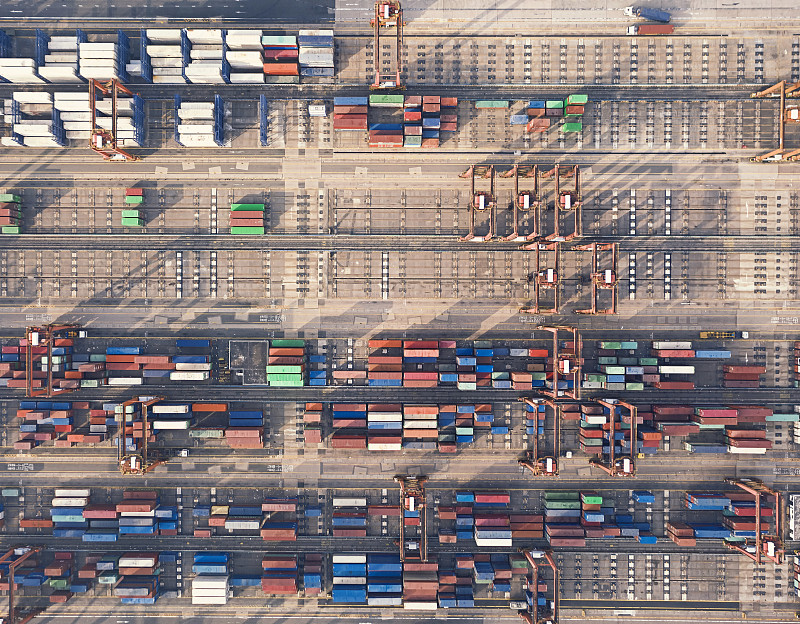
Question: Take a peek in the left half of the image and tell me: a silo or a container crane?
container crane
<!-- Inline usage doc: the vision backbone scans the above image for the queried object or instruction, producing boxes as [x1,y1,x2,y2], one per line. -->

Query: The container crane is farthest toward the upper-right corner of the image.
[753,79,800,162]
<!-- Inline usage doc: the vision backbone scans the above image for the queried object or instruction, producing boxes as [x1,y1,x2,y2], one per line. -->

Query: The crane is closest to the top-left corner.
[87,78,138,161]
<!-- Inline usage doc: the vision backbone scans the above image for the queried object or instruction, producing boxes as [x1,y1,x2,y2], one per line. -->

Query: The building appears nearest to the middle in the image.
[229,341,269,384]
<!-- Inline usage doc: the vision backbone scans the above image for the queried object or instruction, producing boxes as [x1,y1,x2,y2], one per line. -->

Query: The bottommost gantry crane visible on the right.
[519,548,562,624]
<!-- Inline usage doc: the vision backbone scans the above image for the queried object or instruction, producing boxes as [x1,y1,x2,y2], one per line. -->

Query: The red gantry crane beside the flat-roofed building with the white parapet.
[729,476,787,561]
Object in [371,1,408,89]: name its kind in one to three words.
container crane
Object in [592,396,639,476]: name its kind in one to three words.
container crane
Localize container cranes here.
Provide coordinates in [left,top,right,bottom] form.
[538,323,584,399]
[729,476,787,561]
[519,548,562,624]
[87,78,138,161]
[520,395,562,475]
[116,395,168,474]
[540,165,585,243]
[394,477,431,561]
[501,165,544,243]
[520,241,563,316]
[24,323,80,398]
[574,241,621,316]
[371,1,408,89]
[592,396,639,476]
[0,548,42,624]
[753,79,800,162]
[459,165,500,243]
